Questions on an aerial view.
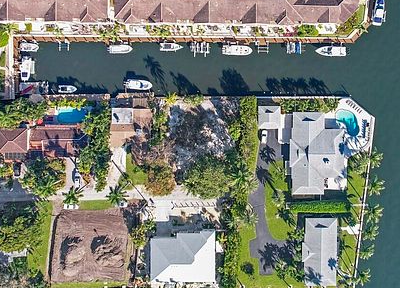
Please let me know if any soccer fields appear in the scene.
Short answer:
No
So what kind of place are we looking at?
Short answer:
residential area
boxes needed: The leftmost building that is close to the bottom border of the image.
[150,227,224,282]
